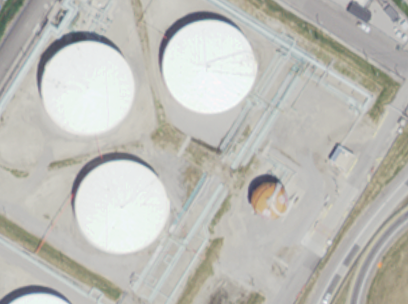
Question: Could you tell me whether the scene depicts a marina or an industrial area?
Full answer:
The area seen from above is an industrial area.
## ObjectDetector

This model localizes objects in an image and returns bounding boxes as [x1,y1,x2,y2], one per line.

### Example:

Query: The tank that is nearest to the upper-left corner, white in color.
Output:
[39,38,138,138]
